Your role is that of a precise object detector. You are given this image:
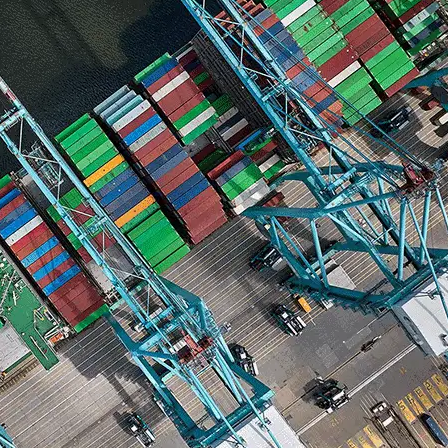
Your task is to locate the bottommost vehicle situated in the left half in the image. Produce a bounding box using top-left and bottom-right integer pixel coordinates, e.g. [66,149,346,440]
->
[125,408,159,448]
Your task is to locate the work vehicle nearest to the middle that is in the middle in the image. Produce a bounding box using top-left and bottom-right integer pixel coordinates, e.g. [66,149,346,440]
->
[247,244,285,275]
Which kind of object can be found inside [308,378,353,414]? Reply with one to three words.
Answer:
work vehicle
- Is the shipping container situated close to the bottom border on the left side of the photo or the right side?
right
